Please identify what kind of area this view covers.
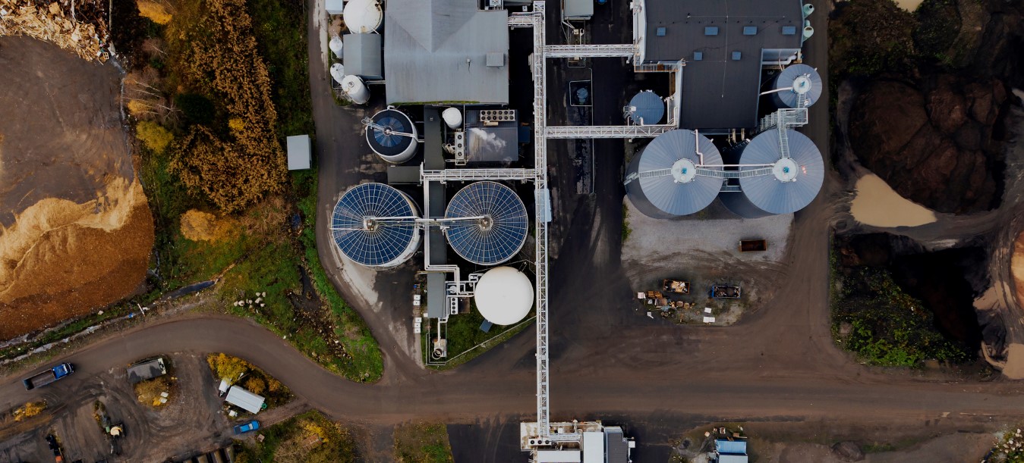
industrial area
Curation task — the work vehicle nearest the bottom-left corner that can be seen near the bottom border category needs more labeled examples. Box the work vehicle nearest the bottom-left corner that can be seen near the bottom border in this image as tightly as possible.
[44,435,65,463]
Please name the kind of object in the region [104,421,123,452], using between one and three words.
work vehicle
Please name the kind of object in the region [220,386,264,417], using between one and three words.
trailer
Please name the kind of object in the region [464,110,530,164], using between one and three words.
building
